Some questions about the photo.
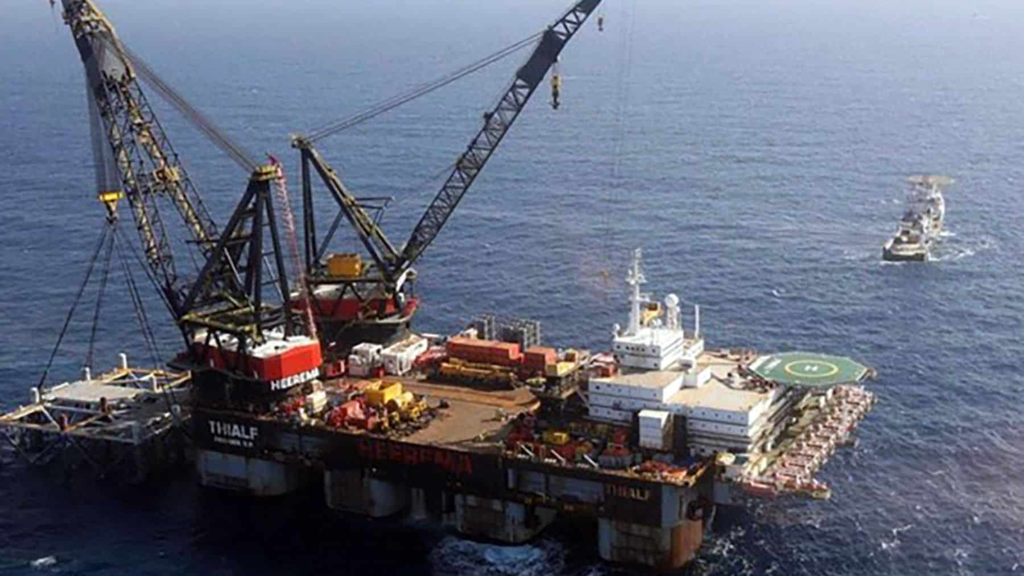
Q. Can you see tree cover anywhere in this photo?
No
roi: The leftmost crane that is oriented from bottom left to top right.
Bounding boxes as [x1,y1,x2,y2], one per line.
[282,0,634,328]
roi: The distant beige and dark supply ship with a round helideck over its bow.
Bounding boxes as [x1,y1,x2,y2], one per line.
[884,178,954,261]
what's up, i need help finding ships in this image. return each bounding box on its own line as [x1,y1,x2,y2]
[192,243,885,567]
[884,178,954,261]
